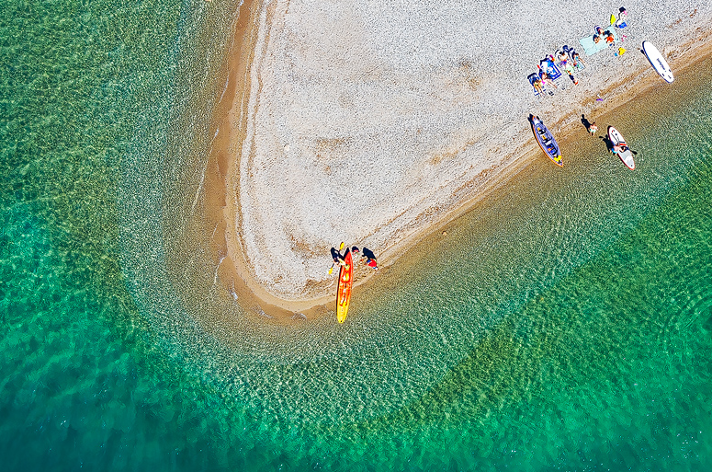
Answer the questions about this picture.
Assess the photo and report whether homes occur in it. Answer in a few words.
No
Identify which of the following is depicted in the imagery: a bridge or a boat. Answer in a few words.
boat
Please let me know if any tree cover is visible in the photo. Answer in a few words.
No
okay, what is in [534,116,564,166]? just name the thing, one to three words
boat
